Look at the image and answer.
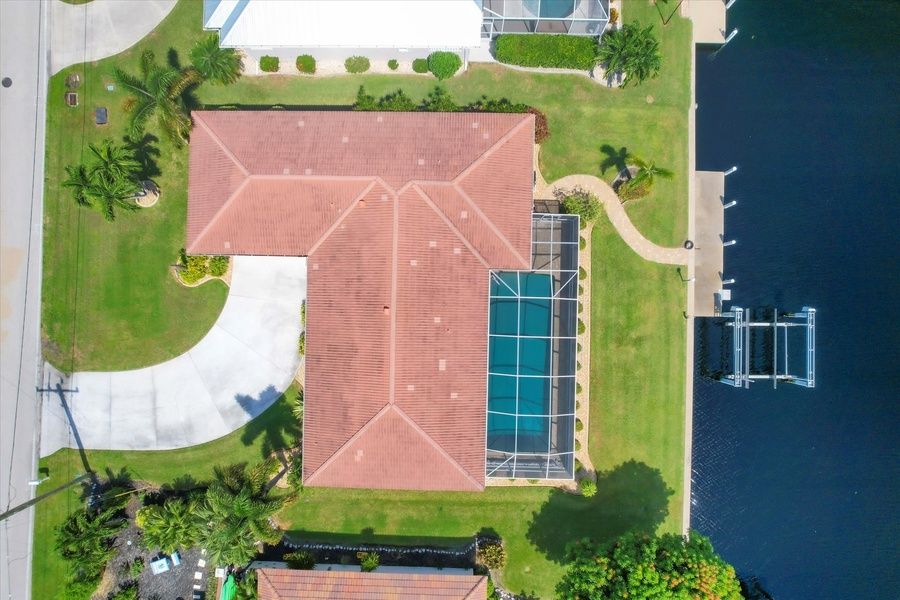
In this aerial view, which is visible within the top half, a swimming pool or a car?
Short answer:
swimming pool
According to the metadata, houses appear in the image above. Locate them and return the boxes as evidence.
[202,0,484,60]
[256,559,489,600]
[185,108,536,493]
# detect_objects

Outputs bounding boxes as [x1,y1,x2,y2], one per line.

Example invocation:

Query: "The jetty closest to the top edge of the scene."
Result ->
[696,0,727,43]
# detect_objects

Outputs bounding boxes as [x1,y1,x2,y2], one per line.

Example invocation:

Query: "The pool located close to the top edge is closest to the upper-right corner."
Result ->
[533,0,578,21]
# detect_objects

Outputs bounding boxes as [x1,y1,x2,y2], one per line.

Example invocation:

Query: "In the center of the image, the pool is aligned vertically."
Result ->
[486,270,555,455]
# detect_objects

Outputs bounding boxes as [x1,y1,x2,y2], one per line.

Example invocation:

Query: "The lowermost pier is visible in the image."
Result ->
[694,170,725,316]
